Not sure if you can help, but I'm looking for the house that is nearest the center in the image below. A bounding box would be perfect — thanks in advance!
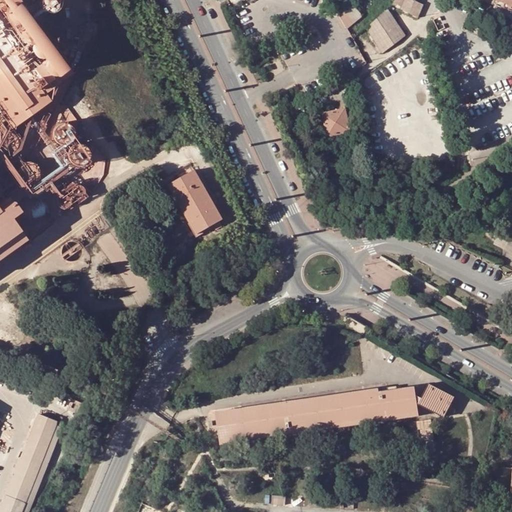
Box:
[172,162,222,237]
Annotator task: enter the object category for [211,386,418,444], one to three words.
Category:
building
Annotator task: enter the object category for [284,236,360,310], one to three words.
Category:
roundabout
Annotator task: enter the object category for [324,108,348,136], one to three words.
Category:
house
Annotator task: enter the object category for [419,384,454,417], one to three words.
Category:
shed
